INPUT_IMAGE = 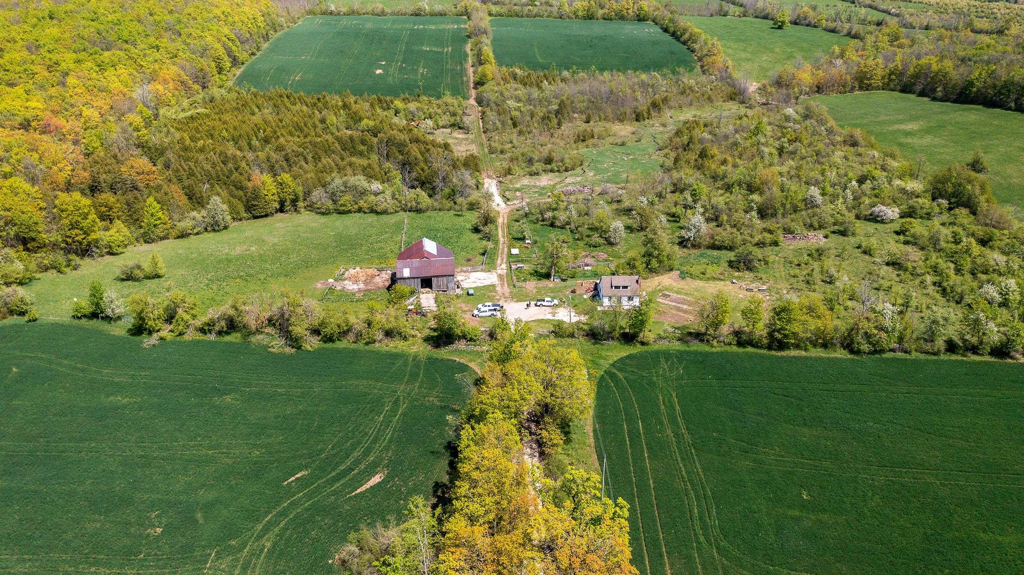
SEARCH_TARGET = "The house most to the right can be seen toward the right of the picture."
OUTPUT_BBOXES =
[597,273,644,310]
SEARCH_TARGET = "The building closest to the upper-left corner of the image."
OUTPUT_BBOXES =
[395,237,456,293]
